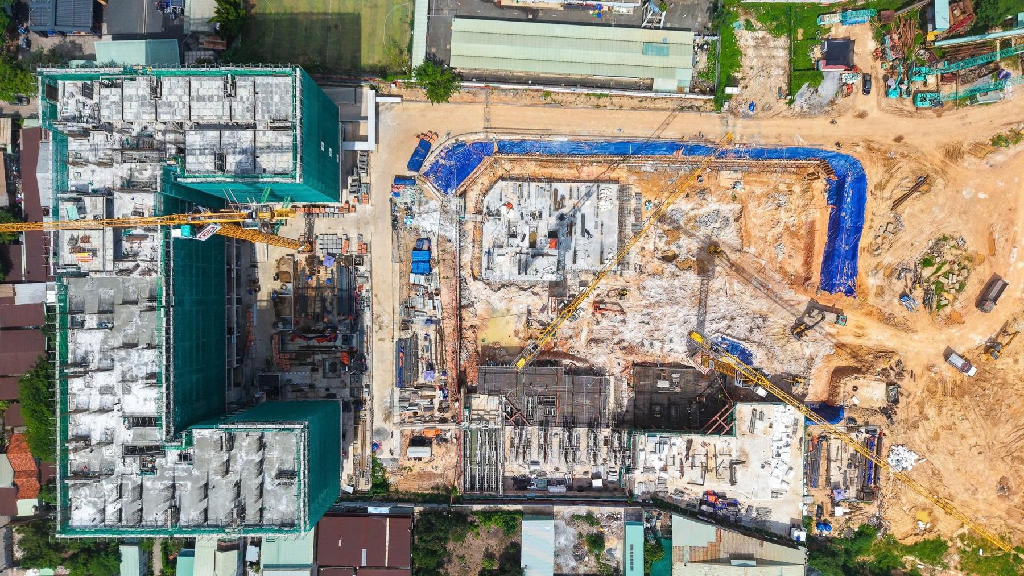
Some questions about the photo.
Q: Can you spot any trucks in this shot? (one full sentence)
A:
Yes, the photo shows a truck.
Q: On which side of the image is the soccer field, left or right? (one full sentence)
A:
The soccer field appears in the left half of the scene.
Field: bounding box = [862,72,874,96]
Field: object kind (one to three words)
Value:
vehicle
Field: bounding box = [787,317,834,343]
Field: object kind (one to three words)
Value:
work vehicle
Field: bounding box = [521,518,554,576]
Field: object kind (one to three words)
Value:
shed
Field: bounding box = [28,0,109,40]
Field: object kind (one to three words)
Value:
shed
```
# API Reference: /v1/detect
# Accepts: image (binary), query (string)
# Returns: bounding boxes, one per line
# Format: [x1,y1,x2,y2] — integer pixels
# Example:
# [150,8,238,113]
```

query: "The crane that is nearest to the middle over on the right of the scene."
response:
[513,131,736,371]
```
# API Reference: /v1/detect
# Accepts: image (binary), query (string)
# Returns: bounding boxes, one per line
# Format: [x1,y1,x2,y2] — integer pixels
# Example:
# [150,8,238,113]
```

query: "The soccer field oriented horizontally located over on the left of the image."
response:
[246,0,411,73]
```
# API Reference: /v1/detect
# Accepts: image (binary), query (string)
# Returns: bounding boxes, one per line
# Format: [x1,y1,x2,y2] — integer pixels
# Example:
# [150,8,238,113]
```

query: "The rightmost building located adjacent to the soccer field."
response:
[451,19,693,85]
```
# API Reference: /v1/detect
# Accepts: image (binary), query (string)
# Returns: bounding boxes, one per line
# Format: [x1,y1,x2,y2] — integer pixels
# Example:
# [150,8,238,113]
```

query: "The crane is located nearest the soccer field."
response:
[0,186,320,255]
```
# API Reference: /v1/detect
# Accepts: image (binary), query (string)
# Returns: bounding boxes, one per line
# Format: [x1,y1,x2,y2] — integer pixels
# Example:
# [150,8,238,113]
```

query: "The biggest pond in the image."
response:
[476,306,535,351]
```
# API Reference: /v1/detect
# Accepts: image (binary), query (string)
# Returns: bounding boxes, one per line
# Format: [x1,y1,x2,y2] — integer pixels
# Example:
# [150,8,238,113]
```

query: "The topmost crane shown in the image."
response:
[904,46,1024,81]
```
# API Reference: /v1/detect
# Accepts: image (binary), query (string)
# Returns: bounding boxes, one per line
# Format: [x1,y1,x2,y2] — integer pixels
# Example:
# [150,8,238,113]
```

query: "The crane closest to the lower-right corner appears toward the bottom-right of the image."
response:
[697,341,1019,557]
